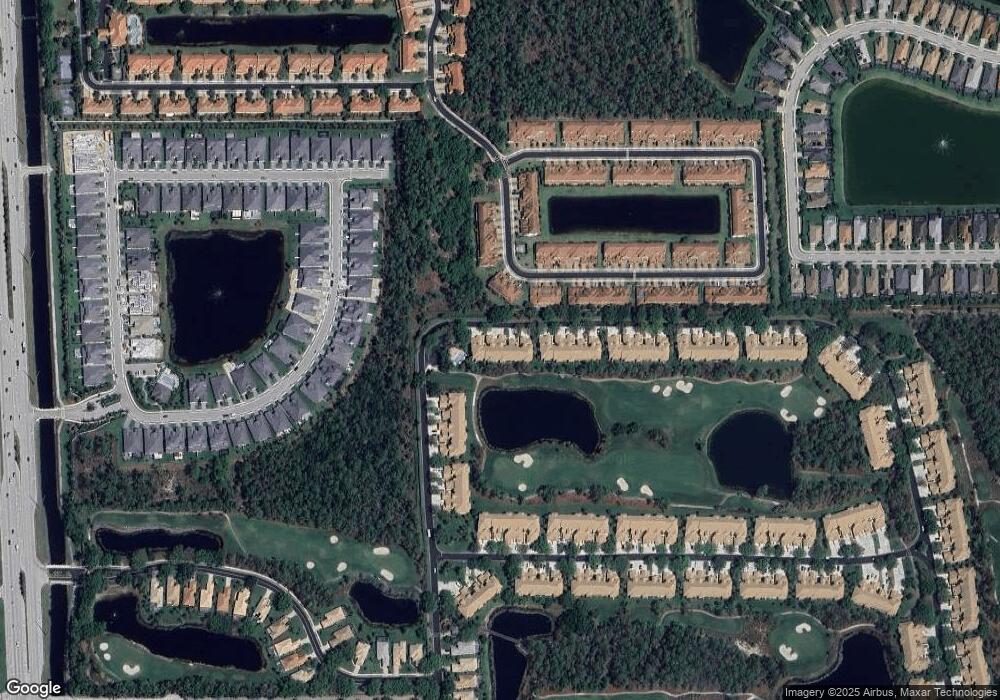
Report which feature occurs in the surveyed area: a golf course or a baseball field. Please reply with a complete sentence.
Looking from above, you can make out a golf course.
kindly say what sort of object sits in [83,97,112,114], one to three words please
house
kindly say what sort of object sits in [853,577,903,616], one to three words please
building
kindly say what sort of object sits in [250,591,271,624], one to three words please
house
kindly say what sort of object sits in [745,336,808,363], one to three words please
building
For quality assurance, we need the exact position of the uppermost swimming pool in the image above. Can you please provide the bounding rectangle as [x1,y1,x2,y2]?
[127,14,142,45]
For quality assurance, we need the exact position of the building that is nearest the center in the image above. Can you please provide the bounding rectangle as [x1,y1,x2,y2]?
[471,336,532,363]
